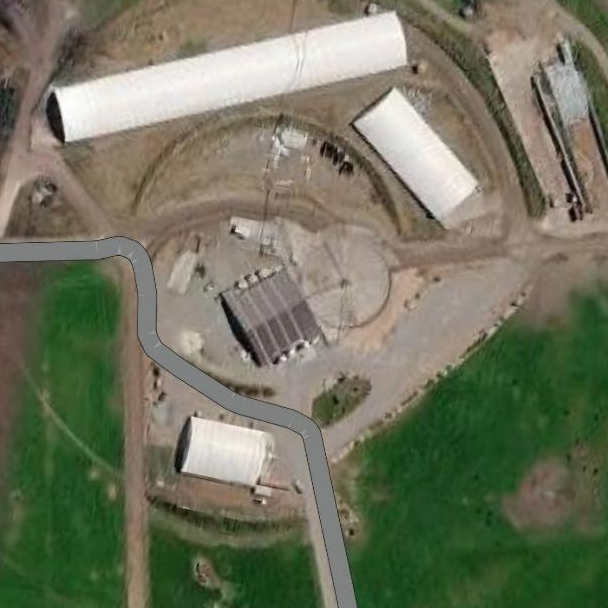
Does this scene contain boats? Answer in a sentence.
No, no boat is visible in the view.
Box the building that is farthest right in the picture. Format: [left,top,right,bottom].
[354,89,481,223]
